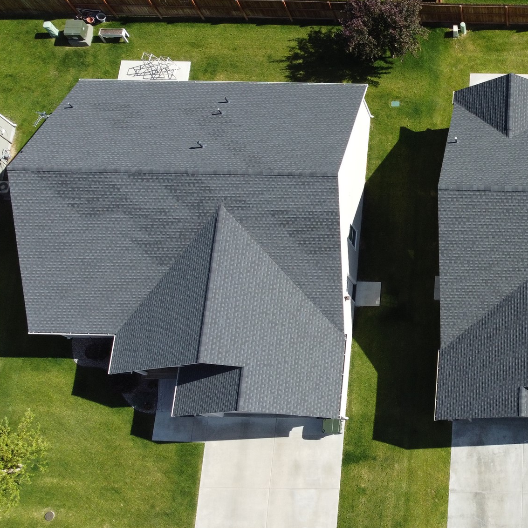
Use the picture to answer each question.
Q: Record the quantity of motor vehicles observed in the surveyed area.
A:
0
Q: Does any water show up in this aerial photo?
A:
No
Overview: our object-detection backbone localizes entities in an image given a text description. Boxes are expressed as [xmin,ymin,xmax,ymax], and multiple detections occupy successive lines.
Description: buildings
[0,111,17,181]
[430,73,528,422]
[8,77,381,422]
